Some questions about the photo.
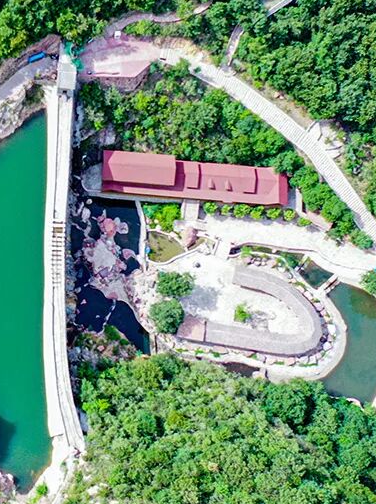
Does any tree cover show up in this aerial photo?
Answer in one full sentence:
Yes, some tree cover is visible.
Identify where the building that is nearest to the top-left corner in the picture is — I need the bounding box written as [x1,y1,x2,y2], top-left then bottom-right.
[57,62,76,94]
